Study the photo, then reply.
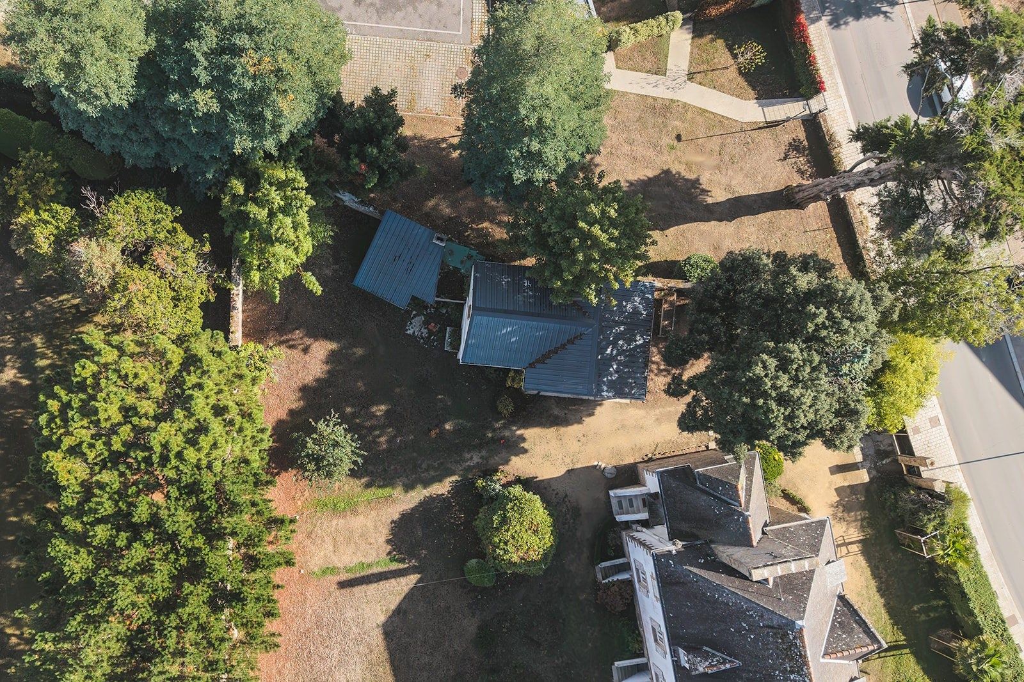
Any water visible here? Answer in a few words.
No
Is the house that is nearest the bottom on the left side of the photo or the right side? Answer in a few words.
right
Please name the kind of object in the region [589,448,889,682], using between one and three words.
house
